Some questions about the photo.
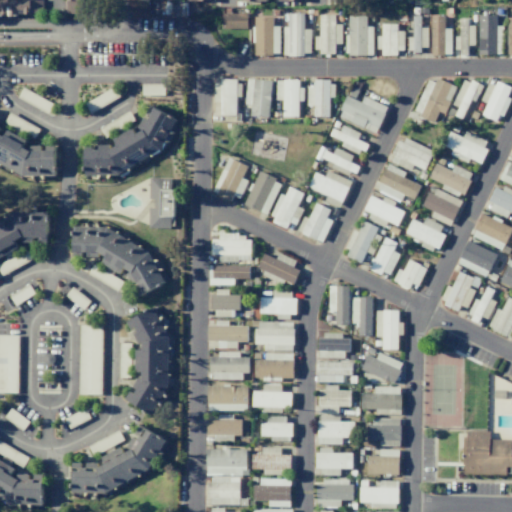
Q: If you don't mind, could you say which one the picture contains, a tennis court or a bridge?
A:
tennis court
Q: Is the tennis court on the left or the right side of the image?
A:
right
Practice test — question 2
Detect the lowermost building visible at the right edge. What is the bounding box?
[465,432,512,476]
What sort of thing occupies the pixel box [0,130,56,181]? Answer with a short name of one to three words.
building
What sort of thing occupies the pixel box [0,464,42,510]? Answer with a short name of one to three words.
building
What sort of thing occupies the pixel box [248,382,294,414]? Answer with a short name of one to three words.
house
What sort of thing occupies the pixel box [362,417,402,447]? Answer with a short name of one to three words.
house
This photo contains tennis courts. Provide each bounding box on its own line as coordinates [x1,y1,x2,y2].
[424,352,466,429]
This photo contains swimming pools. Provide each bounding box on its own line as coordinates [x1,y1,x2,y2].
[498,415,512,428]
[120,194,142,208]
